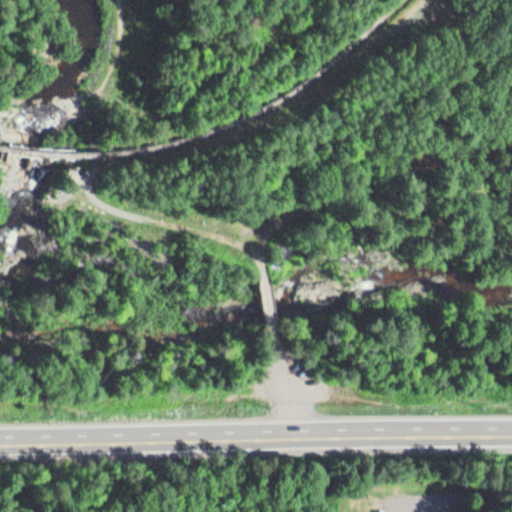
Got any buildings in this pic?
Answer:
No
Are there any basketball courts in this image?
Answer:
No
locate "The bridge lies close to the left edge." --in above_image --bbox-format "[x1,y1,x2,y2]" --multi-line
[0,144,78,164]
